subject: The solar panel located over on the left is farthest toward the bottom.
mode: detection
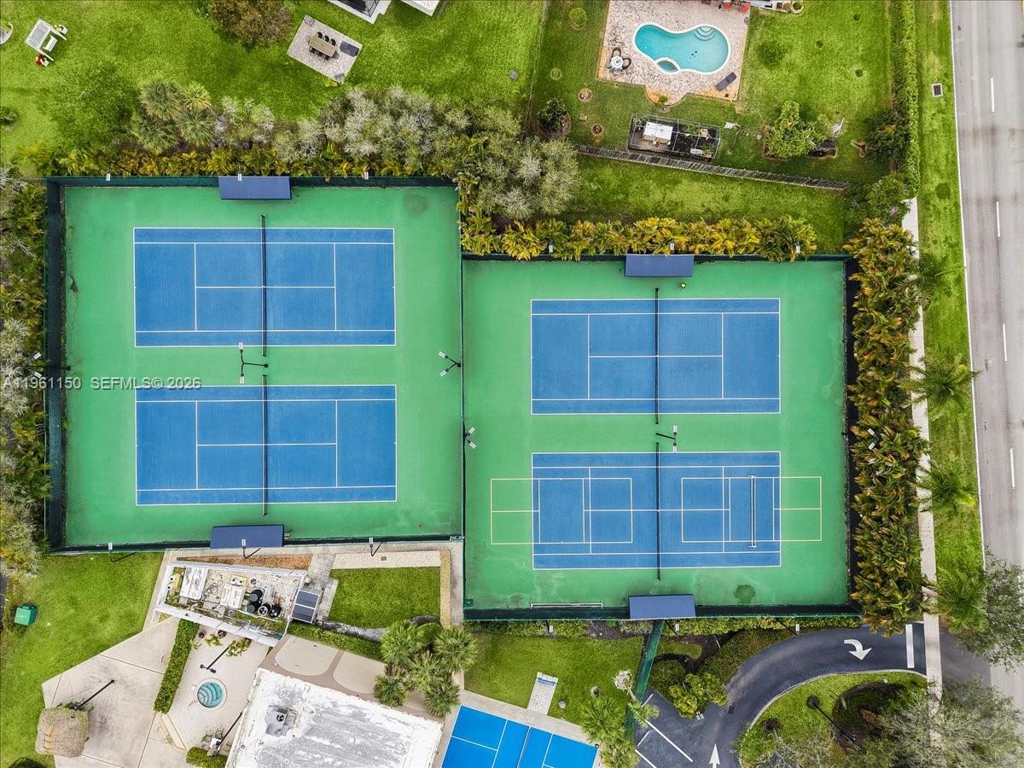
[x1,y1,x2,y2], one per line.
[292,586,323,622]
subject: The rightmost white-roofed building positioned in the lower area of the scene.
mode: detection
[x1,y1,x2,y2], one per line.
[224,669,445,768]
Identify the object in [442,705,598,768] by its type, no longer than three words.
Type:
sports court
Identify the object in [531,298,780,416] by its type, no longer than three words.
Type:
tennis court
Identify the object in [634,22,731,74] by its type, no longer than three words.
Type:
swimming pool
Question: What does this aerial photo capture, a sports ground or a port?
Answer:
sports ground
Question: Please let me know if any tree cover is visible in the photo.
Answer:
Yes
